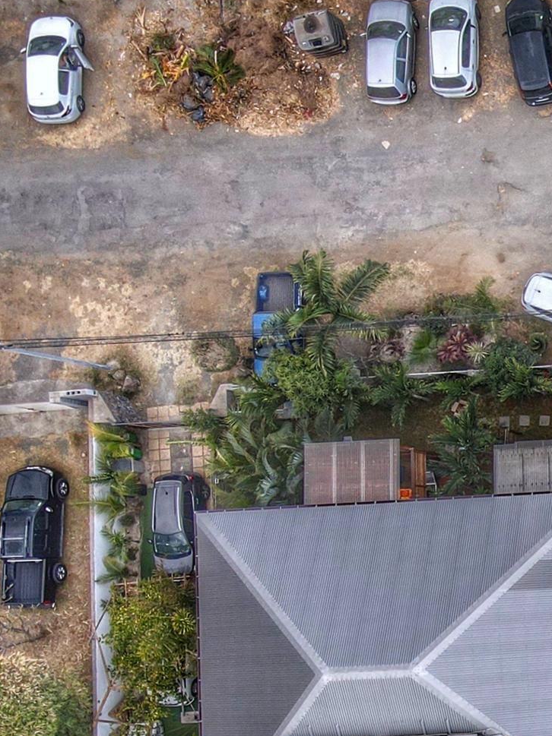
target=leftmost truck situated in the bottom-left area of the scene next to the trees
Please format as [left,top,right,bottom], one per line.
[0,468,71,604]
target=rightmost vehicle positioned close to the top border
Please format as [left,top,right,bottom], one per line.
[501,0,552,107]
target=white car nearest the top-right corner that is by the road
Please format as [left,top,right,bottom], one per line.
[423,0,482,101]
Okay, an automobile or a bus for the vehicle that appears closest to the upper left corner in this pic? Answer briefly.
automobile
